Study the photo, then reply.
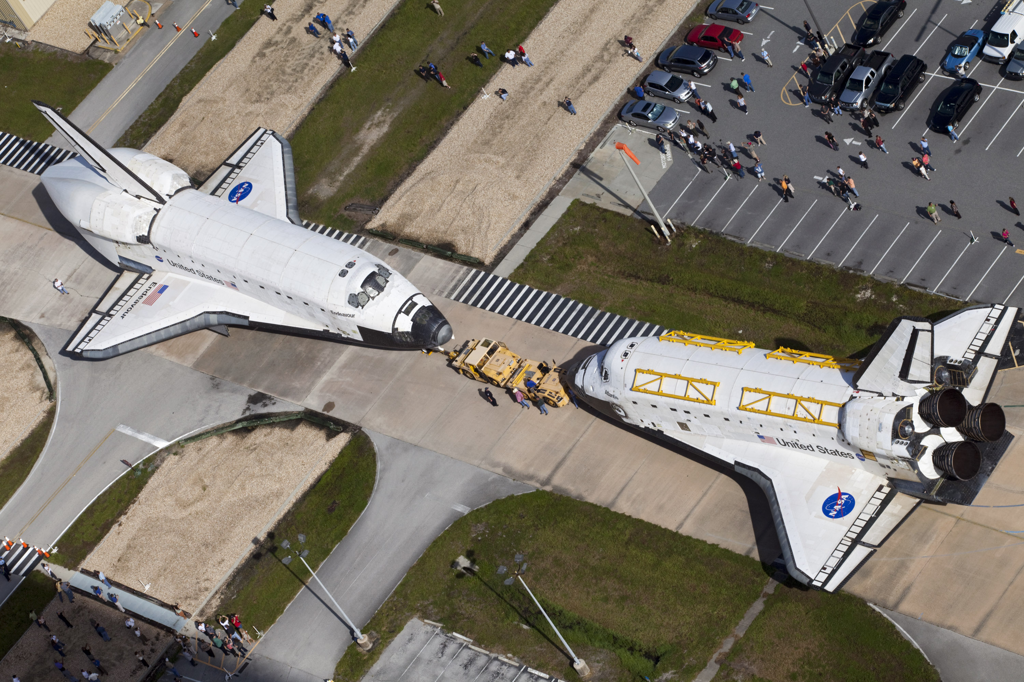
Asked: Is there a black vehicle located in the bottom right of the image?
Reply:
No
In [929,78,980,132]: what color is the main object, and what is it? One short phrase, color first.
black car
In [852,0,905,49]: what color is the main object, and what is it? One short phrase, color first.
black car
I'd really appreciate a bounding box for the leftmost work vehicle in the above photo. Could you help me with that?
[449,337,522,389]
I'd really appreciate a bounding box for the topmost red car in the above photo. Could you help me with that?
[682,18,743,52]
